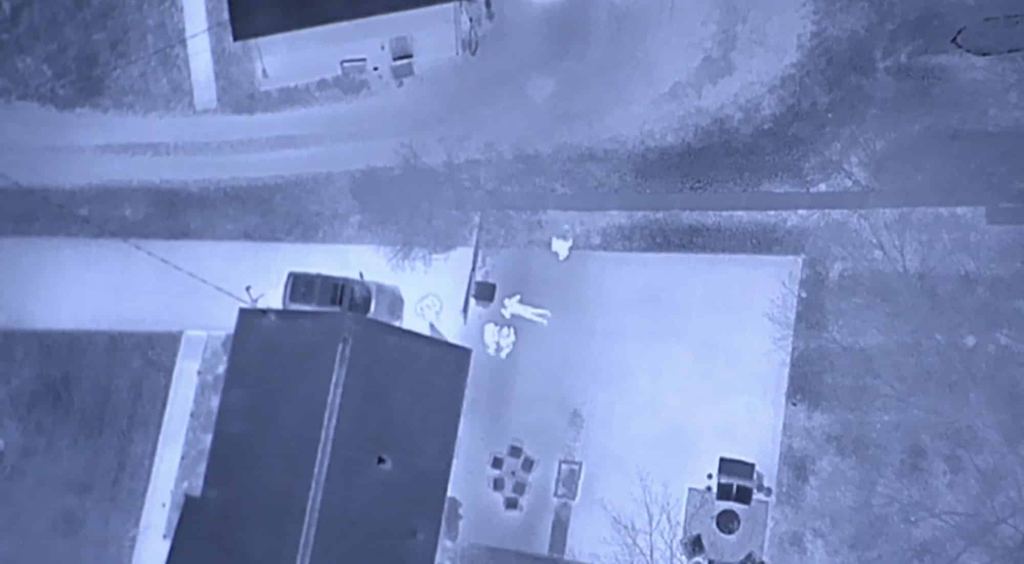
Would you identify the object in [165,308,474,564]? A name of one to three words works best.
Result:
house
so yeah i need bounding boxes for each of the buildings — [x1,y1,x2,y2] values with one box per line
[226,0,473,46]
[165,308,474,564]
